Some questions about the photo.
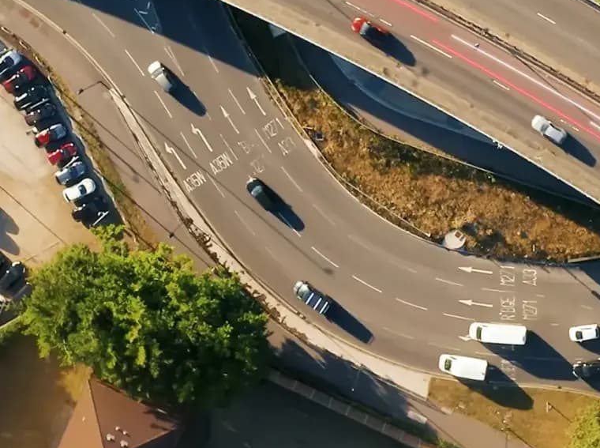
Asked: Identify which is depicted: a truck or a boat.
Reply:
truck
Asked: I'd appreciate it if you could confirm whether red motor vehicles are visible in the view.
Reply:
Yes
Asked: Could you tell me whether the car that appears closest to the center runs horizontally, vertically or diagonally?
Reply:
diagonally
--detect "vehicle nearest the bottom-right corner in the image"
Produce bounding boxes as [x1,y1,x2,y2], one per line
[573,359,600,378]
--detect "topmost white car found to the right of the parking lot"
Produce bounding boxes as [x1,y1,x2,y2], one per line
[144,59,175,95]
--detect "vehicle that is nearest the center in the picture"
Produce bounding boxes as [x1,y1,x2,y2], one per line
[243,178,273,212]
